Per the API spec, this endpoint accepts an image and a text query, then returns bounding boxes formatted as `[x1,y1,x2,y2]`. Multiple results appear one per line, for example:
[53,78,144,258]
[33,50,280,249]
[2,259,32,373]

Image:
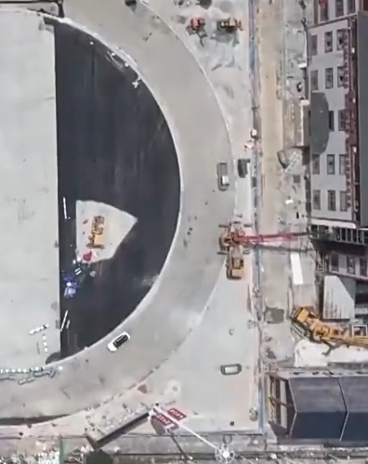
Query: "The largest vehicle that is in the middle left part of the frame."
[88,217,110,253]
